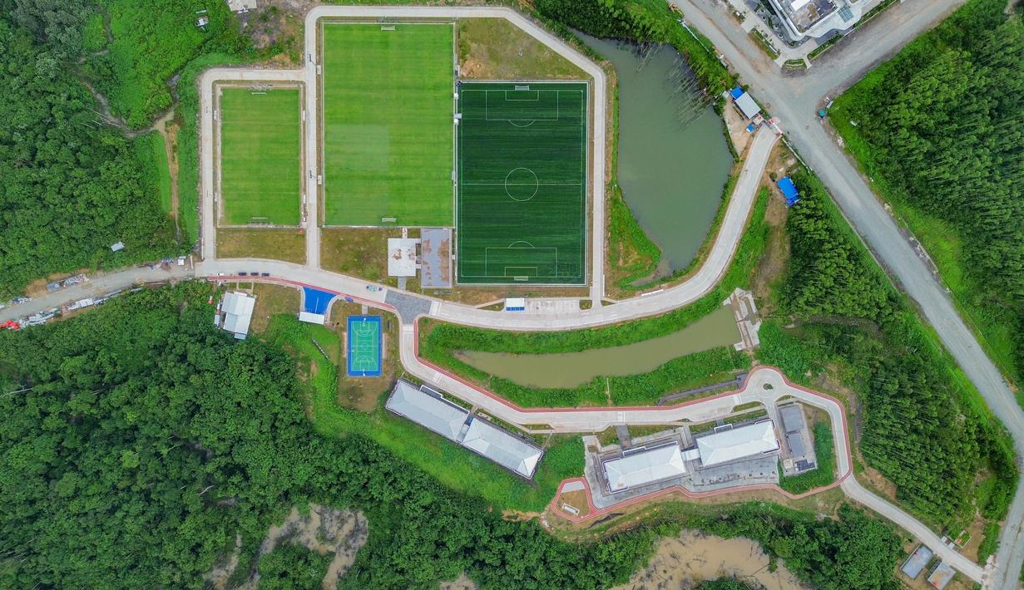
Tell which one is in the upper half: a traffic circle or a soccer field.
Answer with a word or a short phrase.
soccer field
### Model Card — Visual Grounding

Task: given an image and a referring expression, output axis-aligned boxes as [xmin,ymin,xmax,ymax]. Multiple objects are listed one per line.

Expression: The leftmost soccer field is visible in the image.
[217,84,304,228]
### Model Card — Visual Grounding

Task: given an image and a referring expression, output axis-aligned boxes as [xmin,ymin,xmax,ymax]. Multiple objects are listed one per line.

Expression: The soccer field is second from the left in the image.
[323,22,455,227]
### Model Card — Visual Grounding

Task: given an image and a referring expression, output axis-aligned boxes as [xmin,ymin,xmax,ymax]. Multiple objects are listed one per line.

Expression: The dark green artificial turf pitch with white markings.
[454,79,591,287]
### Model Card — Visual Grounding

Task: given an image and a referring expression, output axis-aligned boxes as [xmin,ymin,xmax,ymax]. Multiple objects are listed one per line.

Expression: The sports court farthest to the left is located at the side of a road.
[300,287,339,323]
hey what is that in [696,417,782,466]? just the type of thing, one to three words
house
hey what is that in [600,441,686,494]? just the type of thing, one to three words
house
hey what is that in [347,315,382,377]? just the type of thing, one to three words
basketball court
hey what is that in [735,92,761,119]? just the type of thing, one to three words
building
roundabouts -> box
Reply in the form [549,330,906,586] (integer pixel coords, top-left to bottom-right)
[749,370,787,405]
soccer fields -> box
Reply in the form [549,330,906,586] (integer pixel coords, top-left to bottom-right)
[323,22,455,227]
[454,79,591,287]
[217,84,304,228]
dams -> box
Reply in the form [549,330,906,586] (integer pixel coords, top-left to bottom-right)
[724,288,760,350]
